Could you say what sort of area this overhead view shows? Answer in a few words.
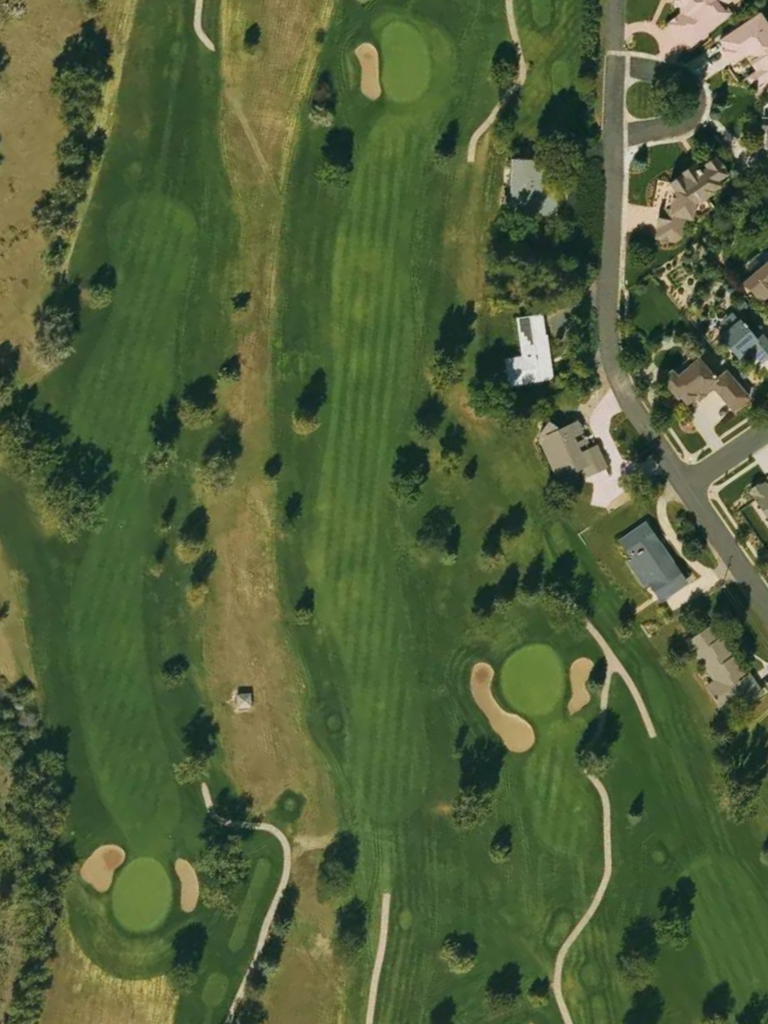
golf course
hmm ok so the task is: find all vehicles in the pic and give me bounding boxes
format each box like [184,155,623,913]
[707,47,717,55]
[712,52,722,60]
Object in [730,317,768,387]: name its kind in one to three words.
house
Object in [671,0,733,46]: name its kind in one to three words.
house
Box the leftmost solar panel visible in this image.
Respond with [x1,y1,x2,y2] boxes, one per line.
[520,319,535,344]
